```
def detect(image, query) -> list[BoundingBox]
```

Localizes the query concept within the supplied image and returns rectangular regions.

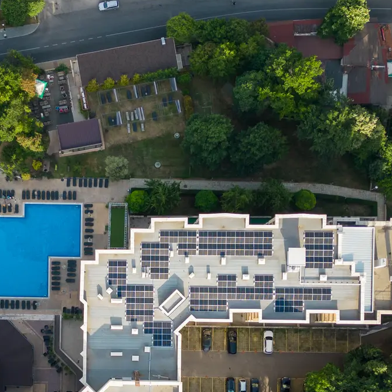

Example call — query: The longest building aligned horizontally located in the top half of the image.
[76,33,179,90]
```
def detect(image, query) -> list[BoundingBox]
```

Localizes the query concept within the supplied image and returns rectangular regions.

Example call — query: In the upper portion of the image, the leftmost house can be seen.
[57,120,105,157]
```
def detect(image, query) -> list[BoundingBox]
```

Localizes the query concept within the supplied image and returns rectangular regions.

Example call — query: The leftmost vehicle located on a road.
[98,0,120,12]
